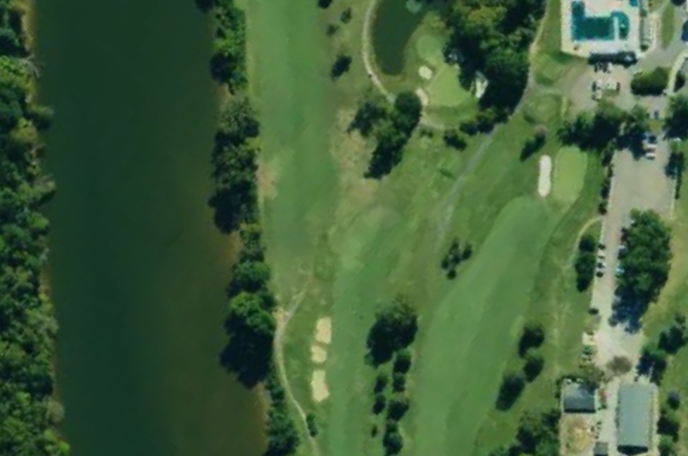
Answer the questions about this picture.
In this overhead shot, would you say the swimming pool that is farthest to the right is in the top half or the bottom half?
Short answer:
top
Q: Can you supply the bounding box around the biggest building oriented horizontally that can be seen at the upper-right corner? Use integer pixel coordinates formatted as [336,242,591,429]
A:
[589,53,637,66]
